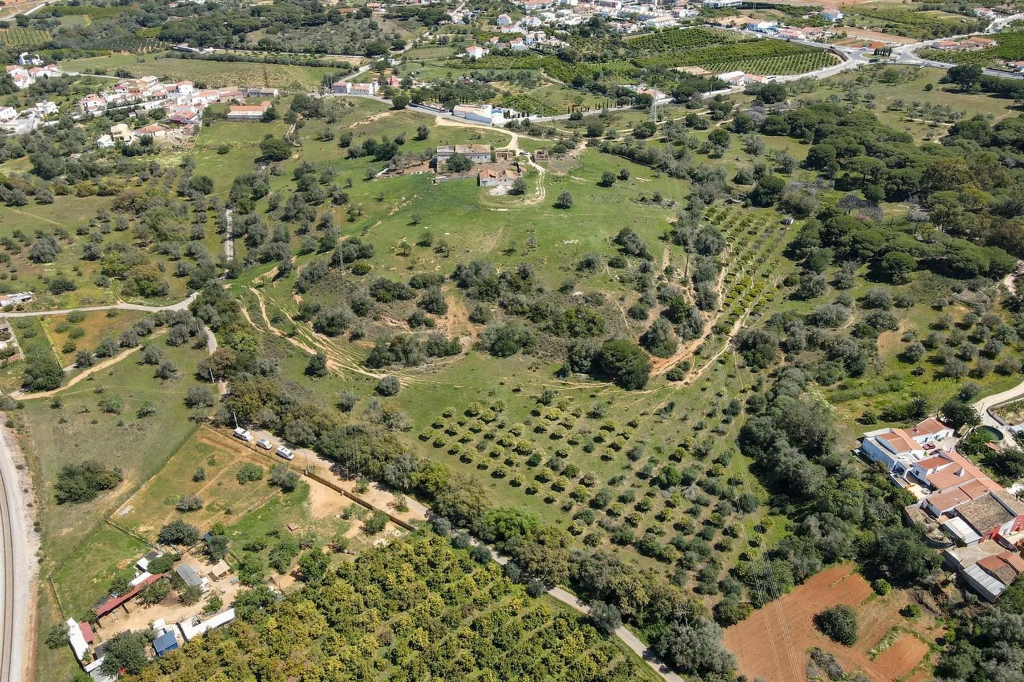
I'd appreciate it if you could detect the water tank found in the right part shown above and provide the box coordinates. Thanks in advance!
[975,420,1007,442]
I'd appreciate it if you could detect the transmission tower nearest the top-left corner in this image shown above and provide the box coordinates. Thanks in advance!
[328,222,345,276]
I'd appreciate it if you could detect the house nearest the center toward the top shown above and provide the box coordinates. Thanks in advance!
[479,169,519,189]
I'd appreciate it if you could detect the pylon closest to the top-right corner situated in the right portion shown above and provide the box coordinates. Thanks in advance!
[650,82,663,121]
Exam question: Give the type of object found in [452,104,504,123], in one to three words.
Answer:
house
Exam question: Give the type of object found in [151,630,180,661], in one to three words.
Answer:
shed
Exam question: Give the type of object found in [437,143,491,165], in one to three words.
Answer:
house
